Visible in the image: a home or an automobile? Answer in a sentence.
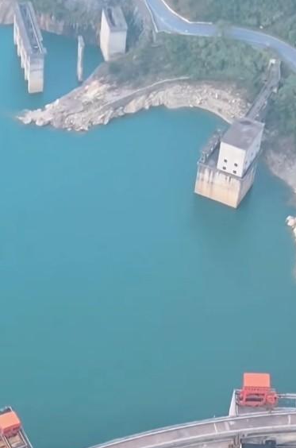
I can see a home in this picture.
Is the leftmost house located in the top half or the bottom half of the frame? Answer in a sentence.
It is in the top half that the leftmost house appears.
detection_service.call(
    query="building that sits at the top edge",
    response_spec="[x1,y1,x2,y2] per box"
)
[101,7,127,63]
